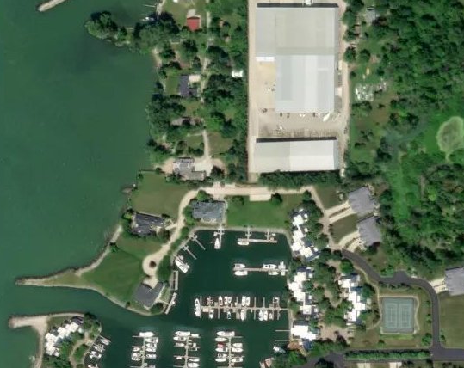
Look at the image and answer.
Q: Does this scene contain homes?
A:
Yes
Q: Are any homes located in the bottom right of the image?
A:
Yes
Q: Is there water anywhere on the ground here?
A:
Yes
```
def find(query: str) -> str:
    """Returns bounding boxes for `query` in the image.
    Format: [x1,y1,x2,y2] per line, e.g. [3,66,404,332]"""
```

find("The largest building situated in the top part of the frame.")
[255,6,338,113]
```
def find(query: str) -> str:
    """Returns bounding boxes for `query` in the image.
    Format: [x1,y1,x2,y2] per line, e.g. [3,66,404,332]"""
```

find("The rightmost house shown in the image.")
[445,268,464,294]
